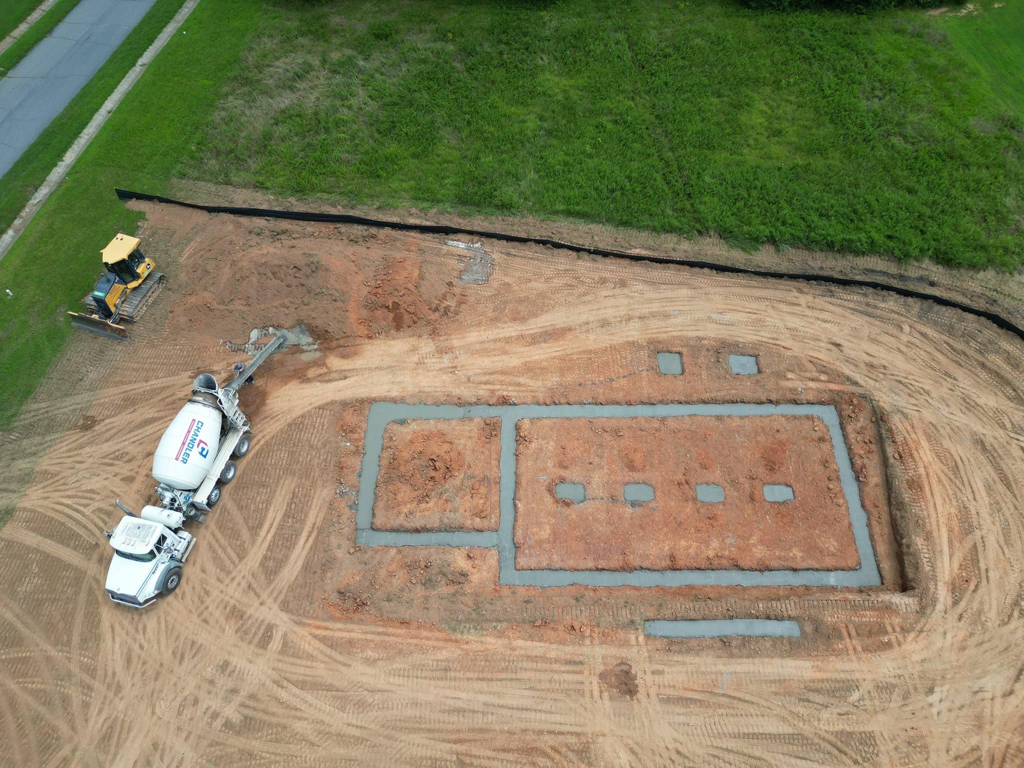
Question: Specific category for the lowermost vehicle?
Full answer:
Looking closely, the lowermost vehicle is a truck.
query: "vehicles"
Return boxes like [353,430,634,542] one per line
[110,337,282,608]
[68,232,170,342]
